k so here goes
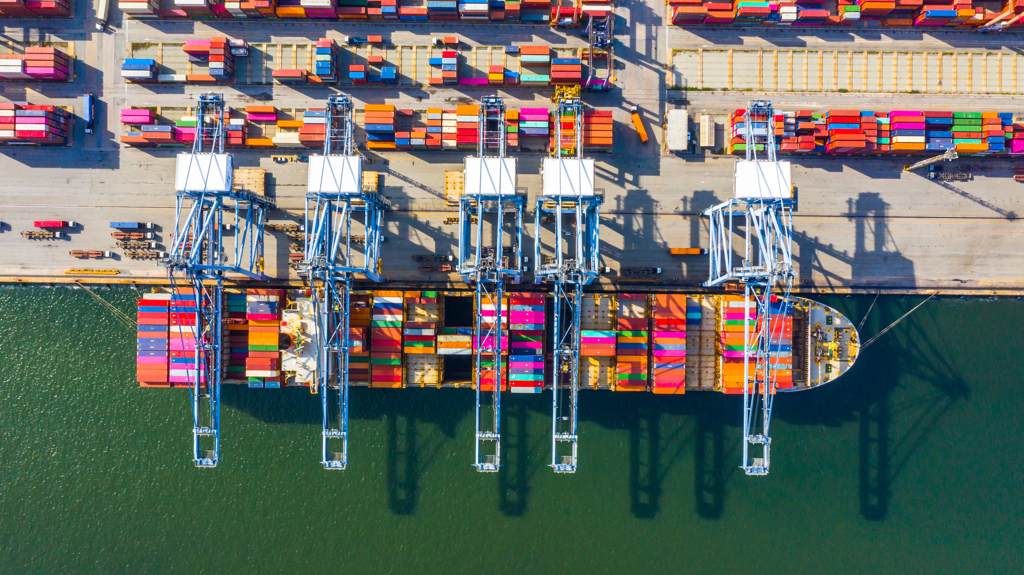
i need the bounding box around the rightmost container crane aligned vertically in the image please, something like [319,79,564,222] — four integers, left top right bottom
[695,91,799,478]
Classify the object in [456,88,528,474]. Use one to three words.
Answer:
container crane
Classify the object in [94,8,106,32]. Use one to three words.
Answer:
vehicle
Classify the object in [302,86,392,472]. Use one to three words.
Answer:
container crane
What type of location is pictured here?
port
